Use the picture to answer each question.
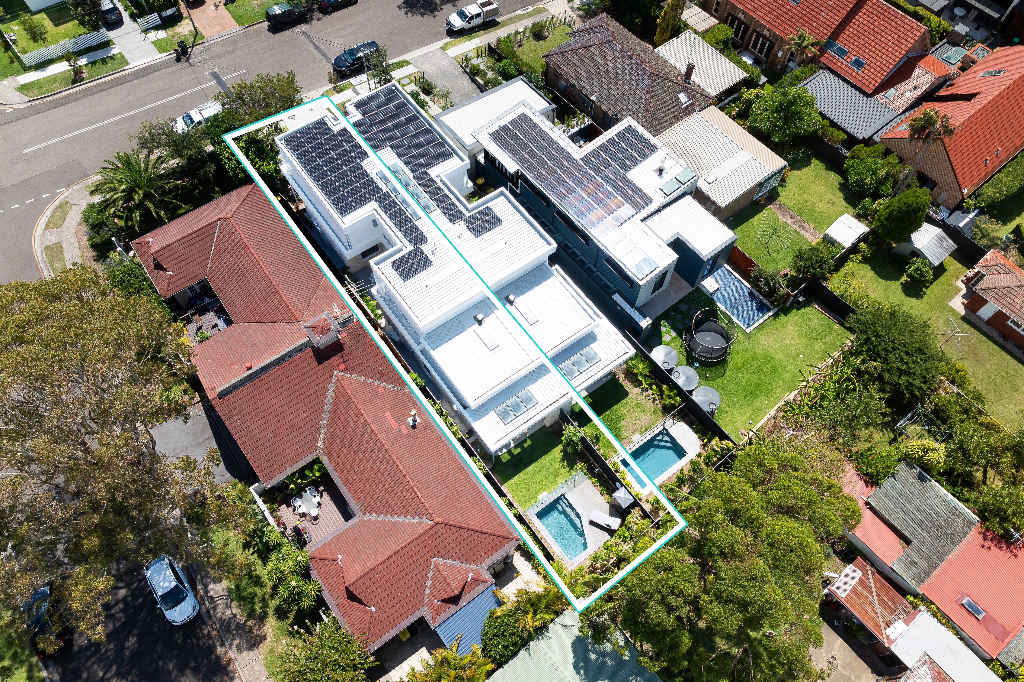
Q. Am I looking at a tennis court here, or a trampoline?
trampoline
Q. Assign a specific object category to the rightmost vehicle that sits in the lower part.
car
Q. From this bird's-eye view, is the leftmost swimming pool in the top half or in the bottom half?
bottom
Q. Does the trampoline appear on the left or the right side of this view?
right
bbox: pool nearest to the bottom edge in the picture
[528,487,593,568]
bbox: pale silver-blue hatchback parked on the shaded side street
[143,557,199,635]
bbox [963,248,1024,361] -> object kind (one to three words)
house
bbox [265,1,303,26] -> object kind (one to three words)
car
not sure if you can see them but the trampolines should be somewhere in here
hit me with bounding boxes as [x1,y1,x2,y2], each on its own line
[684,307,739,365]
